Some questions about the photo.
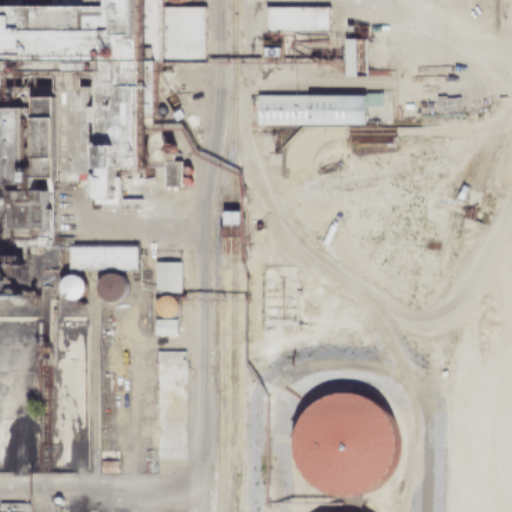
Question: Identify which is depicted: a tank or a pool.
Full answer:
This aerial view contains a tank.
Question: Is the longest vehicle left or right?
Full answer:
It is on the right.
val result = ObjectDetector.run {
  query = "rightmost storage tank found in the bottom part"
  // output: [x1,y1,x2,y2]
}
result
[292,392,402,496]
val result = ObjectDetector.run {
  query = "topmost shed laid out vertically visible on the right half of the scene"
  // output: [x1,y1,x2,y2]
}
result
[346,39,360,78]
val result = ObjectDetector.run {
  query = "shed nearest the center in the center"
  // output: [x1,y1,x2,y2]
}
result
[222,211,242,227]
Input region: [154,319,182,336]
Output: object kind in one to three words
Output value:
shed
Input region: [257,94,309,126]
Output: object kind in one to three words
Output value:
building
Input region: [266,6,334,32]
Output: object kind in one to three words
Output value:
building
